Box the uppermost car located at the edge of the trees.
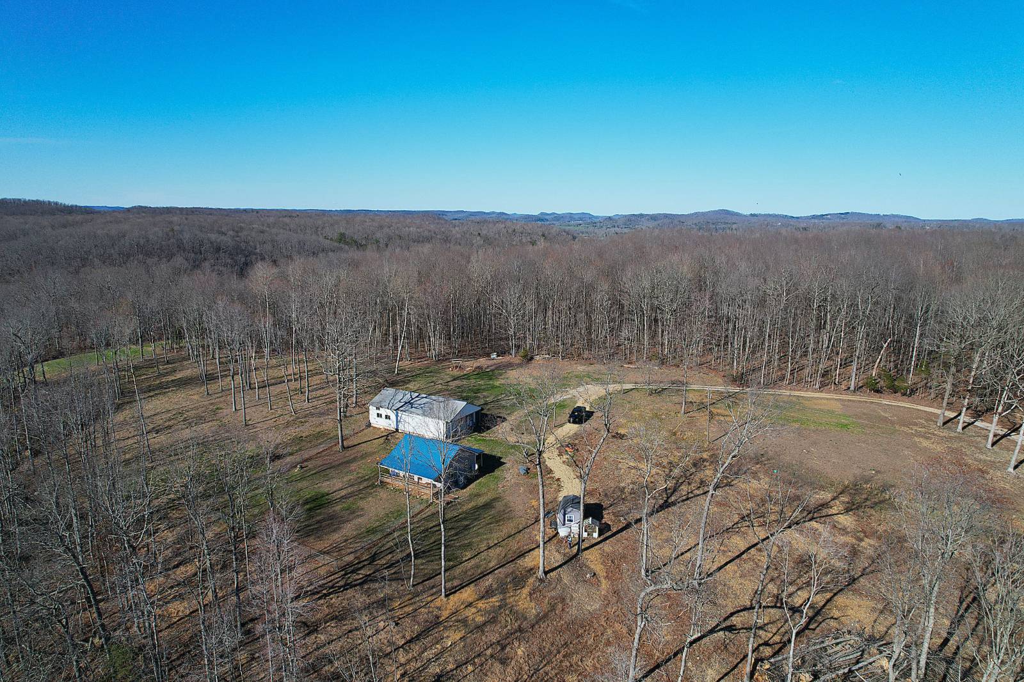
[568,407,585,423]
